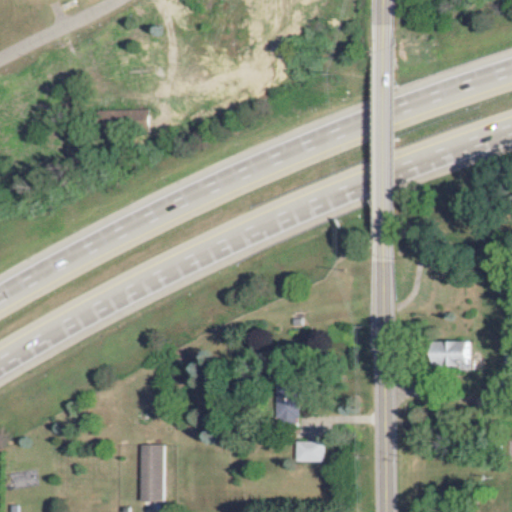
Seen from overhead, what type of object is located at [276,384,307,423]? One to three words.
house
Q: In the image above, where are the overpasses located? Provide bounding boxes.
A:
[370,22,395,262]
